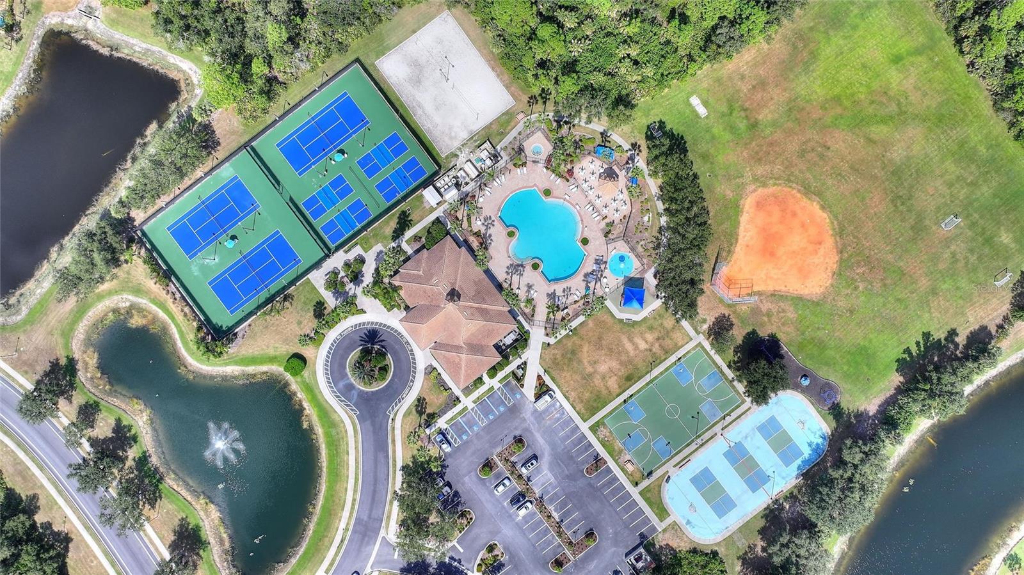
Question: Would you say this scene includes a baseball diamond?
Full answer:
Yes, there is a baseball diamond in the image.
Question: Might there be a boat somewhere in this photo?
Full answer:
No, this view has no boat in it.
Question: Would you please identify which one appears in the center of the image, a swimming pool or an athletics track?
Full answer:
You can see a swimming pool in the center of the image.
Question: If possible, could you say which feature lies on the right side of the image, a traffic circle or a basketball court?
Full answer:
Visible on the right side of the image is a basketball court.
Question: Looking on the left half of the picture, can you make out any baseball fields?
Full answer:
No, looking on the left half of the picture, there is no baseball field.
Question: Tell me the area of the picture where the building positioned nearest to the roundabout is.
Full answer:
The building positioned nearest to the roundabout is located in the center region of the scene.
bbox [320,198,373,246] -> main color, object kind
blue sports court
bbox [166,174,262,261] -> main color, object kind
blue tennis court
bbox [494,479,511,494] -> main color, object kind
white car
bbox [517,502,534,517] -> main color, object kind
white car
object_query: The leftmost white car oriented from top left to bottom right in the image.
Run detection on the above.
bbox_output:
[436,435,451,453]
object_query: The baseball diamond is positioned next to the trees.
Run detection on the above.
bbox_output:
[710,184,840,304]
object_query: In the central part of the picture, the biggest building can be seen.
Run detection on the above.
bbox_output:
[390,235,518,390]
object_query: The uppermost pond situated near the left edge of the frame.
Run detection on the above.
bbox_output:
[0,35,173,295]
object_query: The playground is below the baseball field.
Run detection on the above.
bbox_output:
[742,336,841,411]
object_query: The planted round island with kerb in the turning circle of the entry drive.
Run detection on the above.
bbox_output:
[347,344,394,391]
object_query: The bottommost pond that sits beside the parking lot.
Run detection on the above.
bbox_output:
[101,326,312,575]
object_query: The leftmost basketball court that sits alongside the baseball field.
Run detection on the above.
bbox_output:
[604,347,740,474]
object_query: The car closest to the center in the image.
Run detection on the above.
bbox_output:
[535,392,555,410]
